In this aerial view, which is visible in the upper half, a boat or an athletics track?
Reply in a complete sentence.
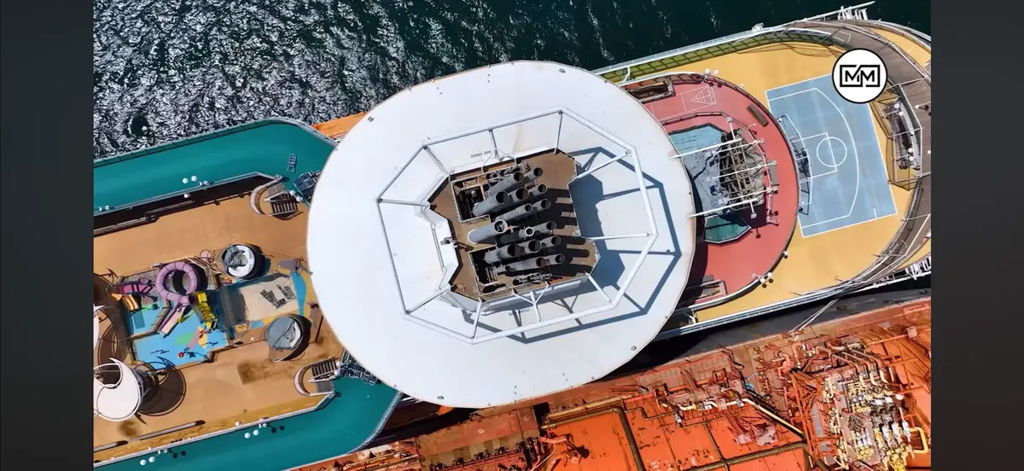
What appears in the upper half is a boat.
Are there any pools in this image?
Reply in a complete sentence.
Yes, there is a pool in the image.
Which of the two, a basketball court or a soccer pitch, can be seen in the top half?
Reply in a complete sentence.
It is a basketball court that can be seen in the top half.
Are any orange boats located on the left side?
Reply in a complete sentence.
Yes, an orange boat is visible on the left side.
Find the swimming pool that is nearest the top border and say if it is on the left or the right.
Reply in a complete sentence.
The swimming pool that is nearest the top border sits on the right side.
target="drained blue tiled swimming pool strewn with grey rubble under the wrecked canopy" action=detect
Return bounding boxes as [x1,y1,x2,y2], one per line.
[666,121,735,221]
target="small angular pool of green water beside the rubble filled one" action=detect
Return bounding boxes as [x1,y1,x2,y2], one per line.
[702,212,757,245]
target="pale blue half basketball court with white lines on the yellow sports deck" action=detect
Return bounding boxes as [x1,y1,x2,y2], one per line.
[766,66,896,236]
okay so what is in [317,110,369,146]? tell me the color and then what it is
orange boat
